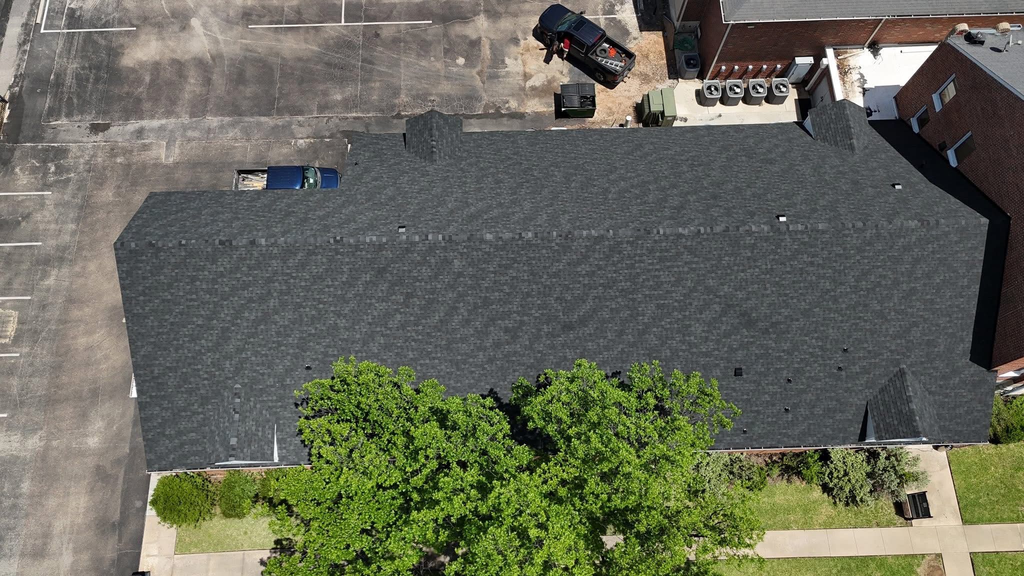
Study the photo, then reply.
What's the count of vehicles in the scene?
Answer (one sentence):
The photo contains 2 vehicles.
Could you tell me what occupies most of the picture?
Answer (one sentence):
What you mostly see from above here is buildings.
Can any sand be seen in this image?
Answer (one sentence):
No, sand can't be seen anywhere here.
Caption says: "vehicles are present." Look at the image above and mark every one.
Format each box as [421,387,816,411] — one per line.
[537,2,641,88]
[234,157,344,188]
